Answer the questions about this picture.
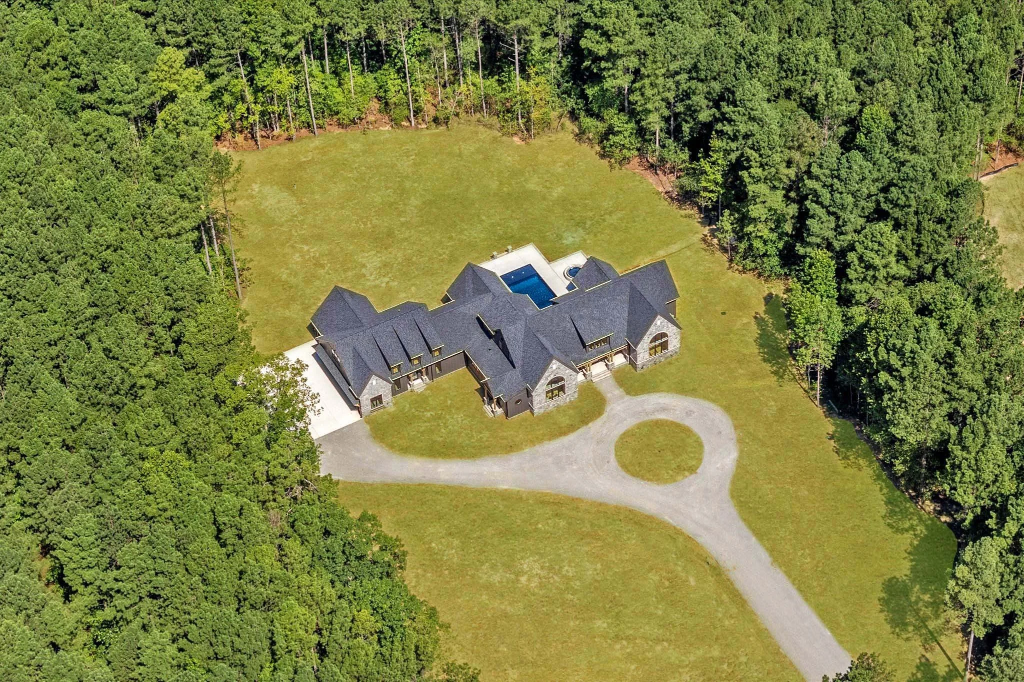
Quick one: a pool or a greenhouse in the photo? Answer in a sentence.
Looking from above, you can make out a pool.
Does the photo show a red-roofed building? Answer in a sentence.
No, no red-roofed building is visible in the scene.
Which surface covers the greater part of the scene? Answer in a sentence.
The scene is dominated by trees.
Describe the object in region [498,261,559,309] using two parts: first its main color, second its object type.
blue swimming pool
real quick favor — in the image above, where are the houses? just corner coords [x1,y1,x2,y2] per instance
[309,255,684,419]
